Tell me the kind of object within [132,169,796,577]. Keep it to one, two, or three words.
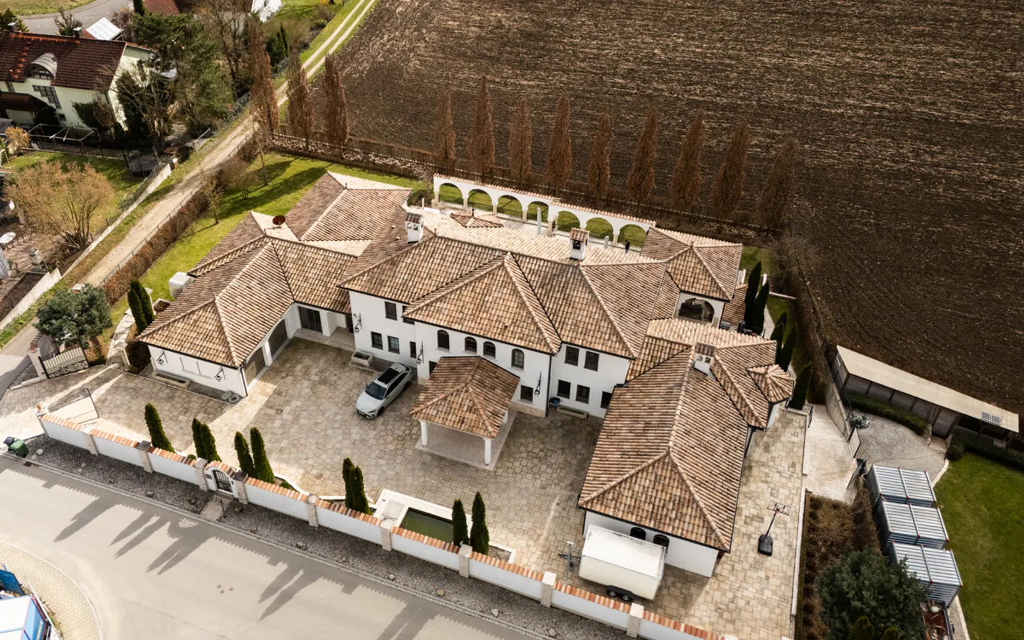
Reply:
house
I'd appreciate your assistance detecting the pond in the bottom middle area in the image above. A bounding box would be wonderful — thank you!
[367,485,474,549]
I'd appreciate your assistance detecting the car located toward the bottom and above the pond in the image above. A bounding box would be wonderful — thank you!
[354,360,415,421]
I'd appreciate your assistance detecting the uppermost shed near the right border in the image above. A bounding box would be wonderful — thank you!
[833,347,1019,451]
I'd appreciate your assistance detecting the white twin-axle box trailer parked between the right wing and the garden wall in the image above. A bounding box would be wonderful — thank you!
[550,525,667,599]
